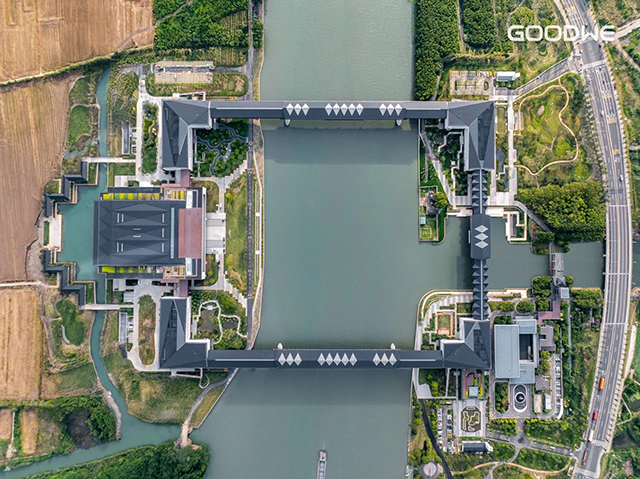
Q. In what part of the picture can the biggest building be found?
left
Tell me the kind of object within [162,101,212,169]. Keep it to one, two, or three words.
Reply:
building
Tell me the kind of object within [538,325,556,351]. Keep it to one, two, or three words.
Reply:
house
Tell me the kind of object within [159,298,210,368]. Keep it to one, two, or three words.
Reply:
building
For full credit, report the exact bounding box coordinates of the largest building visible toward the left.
[94,187,210,279]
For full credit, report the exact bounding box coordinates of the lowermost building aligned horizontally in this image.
[461,438,493,454]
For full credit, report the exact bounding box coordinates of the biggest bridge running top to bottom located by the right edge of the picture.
[601,204,632,324]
